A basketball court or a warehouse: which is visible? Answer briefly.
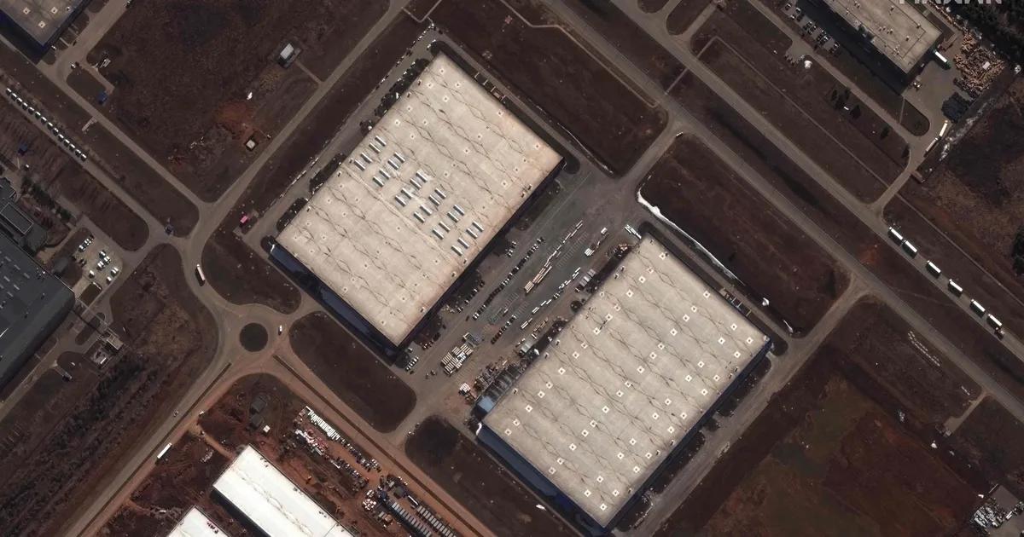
warehouse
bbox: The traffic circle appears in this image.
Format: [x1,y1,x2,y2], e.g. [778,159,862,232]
[230,314,277,361]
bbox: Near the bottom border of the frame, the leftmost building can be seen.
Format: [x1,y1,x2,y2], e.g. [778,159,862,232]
[165,506,228,537]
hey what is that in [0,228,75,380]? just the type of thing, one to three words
building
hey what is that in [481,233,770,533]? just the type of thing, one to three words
warehouse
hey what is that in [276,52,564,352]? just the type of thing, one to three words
warehouse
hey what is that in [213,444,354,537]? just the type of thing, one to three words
building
